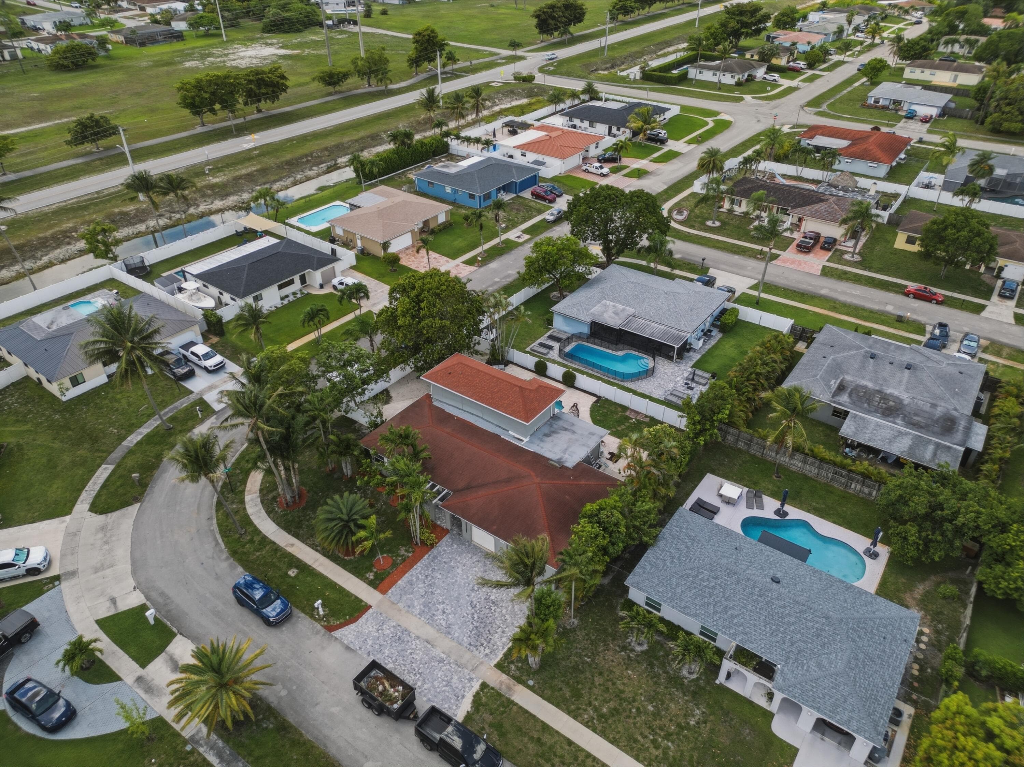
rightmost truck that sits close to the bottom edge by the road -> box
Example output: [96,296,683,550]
[410,705,507,767]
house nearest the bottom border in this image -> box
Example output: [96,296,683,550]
[621,509,922,767]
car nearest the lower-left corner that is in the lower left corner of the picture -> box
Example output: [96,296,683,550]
[1,677,80,734]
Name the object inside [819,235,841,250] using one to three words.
car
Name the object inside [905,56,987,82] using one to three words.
house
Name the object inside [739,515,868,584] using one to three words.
swimming pool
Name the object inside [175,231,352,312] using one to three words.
house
